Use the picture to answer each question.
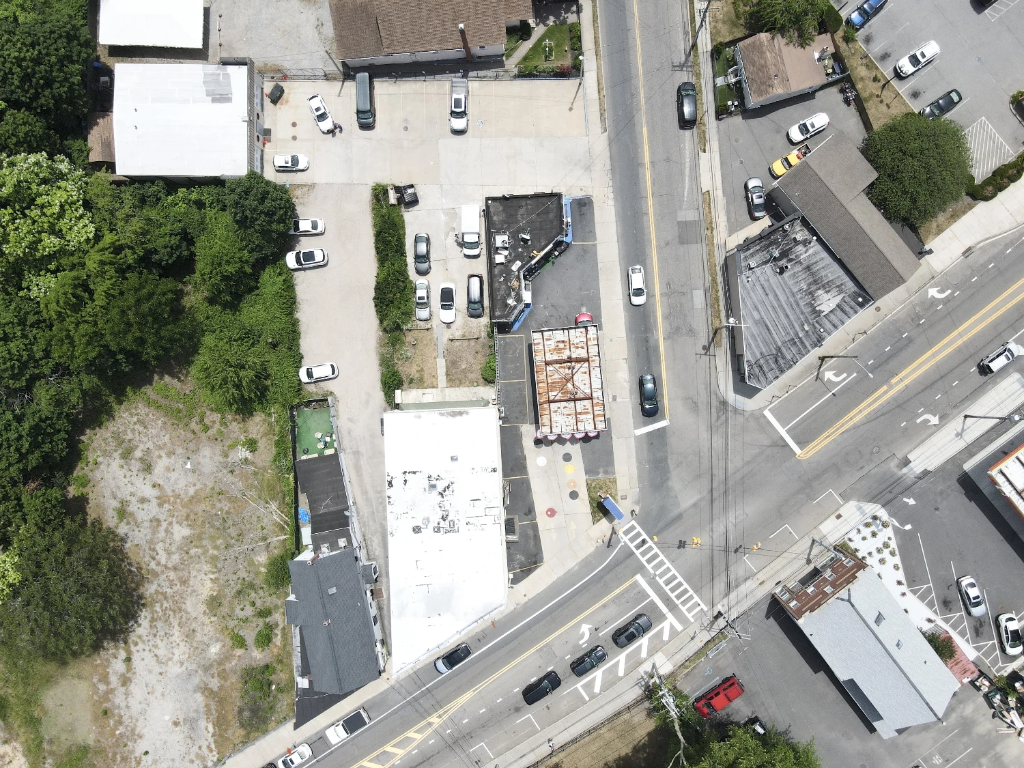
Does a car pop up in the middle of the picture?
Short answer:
Yes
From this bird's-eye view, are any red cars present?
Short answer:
Yes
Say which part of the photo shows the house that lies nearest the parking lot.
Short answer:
top right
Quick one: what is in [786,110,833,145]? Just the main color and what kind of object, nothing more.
white car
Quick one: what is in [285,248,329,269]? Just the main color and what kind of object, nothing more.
white car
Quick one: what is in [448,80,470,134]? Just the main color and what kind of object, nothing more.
white truck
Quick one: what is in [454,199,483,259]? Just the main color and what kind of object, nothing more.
white truck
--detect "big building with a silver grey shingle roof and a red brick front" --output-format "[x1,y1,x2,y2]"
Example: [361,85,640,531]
[766,543,961,739]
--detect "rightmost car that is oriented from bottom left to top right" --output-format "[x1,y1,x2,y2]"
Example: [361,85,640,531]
[975,340,1022,375]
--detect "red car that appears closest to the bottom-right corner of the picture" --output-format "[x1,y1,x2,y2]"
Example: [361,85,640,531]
[690,679,747,717]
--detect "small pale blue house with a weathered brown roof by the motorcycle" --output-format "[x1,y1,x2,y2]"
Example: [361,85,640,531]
[729,32,839,110]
